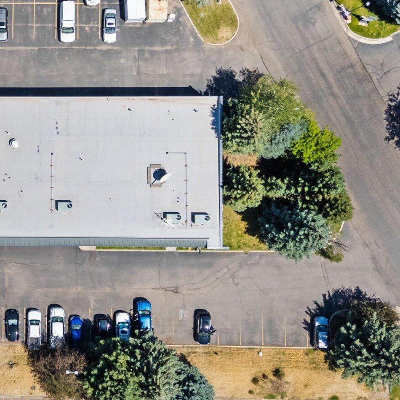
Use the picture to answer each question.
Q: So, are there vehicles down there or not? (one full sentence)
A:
Yes, a vehicle appears in the view.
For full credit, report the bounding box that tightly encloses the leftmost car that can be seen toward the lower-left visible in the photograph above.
[3,308,20,341]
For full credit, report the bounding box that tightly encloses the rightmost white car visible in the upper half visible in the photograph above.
[101,9,118,44]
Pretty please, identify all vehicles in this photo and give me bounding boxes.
[96,314,111,344]
[114,311,132,344]
[68,314,84,344]
[3,308,20,341]
[0,7,9,43]
[26,309,43,350]
[196,310,218,343]
[101,9,118,44]
[59,1,77,43]
[48,306,67,349]
[136,299,154,343]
